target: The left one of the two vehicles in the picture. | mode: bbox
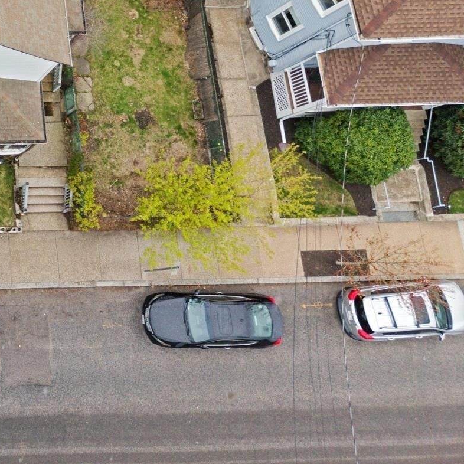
[142,292,287,352]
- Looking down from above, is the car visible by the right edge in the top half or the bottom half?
bottom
